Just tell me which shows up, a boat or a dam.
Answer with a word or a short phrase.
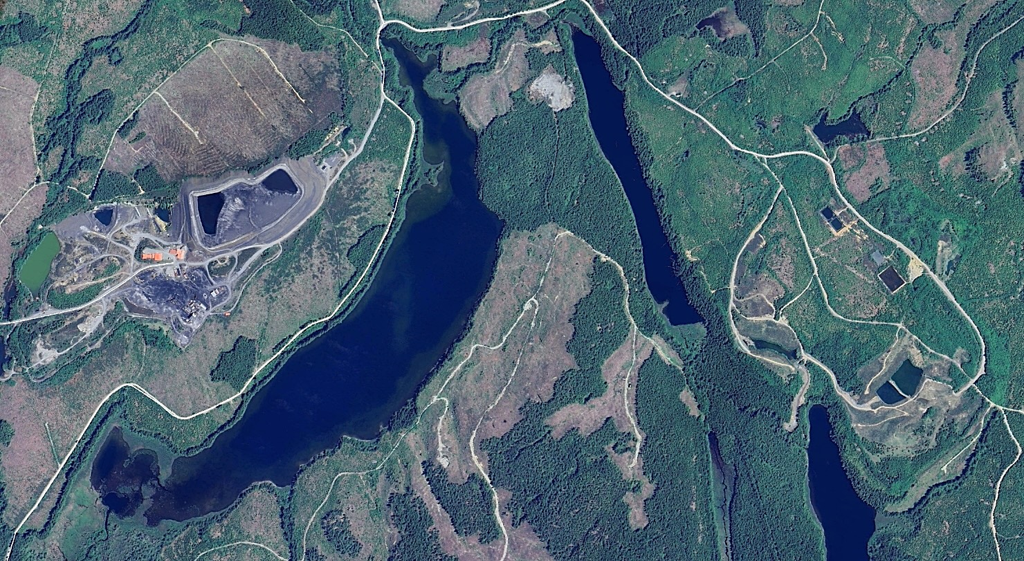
dam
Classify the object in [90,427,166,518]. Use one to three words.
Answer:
pond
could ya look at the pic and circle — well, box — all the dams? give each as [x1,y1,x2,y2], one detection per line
[183,157,311,256]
